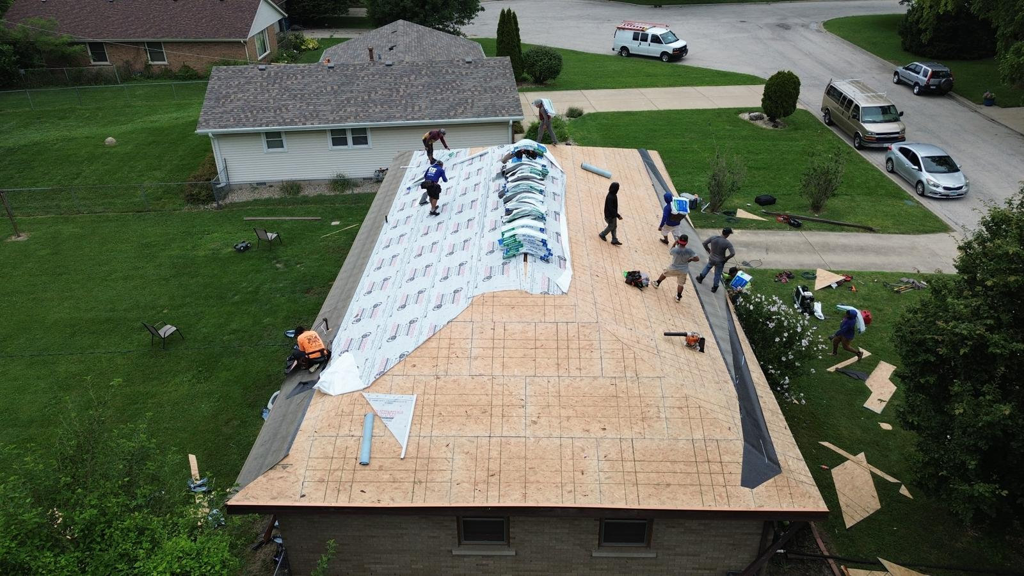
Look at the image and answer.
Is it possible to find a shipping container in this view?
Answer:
No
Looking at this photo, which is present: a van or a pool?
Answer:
van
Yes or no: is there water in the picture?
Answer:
No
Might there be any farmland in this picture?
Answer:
No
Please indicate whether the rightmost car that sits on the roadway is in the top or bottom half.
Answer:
top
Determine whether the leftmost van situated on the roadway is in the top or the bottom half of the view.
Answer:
top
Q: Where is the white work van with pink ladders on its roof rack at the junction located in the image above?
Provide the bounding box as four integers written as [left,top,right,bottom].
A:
[608,23,695,62]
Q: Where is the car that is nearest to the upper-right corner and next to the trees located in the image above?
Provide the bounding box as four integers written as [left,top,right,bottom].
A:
[890,59,960,95]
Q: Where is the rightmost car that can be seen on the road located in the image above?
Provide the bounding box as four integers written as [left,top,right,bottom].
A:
[883,144,973,200]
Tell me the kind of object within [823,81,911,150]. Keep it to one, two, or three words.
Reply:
van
